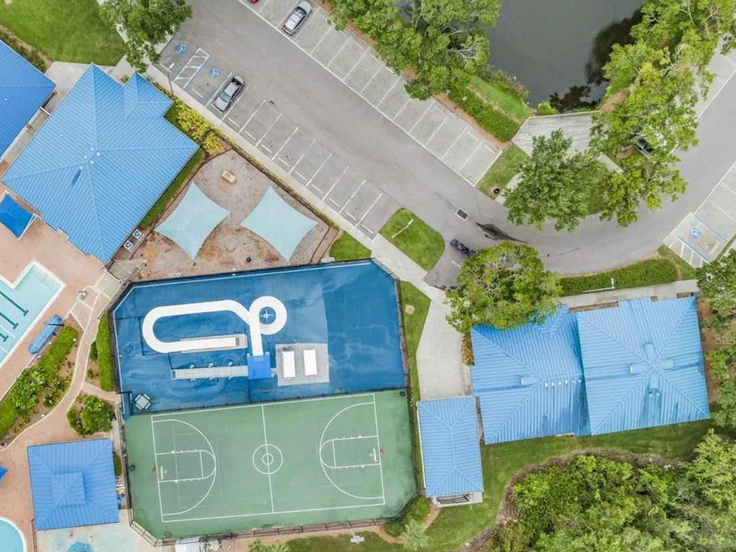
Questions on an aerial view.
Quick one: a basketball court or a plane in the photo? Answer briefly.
basketball court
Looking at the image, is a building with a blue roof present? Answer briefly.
Yes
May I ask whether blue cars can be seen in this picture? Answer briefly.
No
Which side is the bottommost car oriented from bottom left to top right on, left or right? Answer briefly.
left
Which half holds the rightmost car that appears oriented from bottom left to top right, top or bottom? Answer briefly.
top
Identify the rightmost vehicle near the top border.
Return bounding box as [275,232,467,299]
[281,0,313,38]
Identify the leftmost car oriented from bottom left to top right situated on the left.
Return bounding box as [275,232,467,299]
[213,74,245,113]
